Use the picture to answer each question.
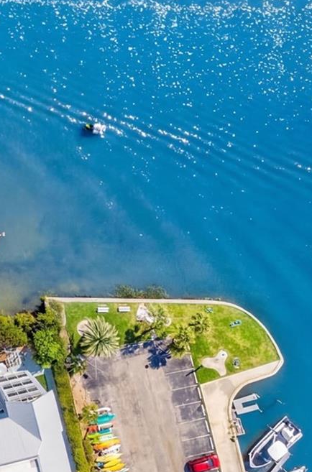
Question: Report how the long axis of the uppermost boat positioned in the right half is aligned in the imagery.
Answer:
on a diagonal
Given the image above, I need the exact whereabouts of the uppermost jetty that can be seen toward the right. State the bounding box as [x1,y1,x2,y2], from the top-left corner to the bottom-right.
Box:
[233,393,263,415]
